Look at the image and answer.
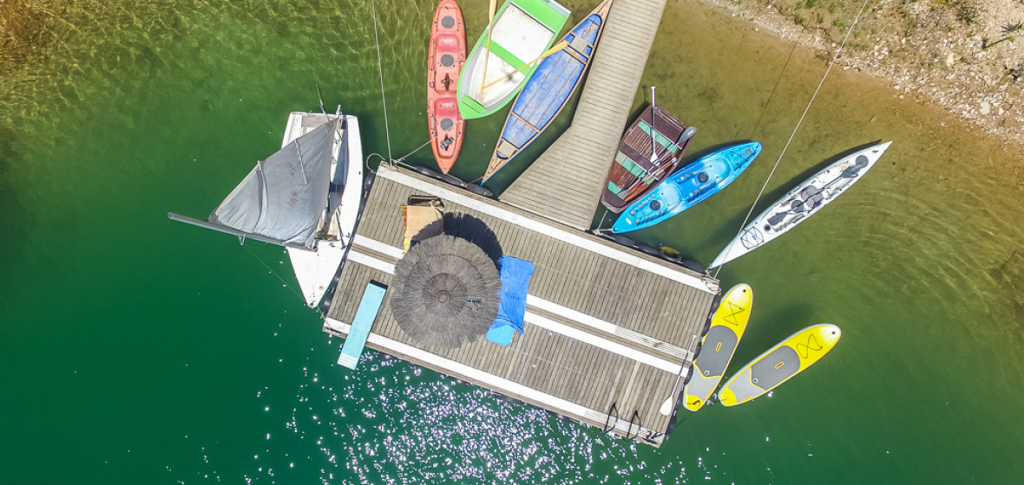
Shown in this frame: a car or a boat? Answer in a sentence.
There is a boat in the scene.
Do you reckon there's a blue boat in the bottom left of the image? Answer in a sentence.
No, in the bottom left of the image there is no blue boat.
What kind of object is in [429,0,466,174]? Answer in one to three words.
boat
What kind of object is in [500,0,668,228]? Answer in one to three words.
pier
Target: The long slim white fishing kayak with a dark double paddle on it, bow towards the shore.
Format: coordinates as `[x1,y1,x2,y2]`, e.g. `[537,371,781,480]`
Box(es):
[708,140,894,267]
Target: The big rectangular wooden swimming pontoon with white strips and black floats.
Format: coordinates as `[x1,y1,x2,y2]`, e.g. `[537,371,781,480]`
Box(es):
[323,163,718,450]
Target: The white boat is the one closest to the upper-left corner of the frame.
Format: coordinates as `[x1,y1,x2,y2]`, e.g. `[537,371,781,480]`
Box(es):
[167,84,361,308]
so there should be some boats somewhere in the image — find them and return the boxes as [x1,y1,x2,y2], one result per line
[708,140,894,267]
[603,102,689,213]
[481,0,612,185]
[611,141,763,233]
[429,0,466,174]
[167,84,361,308]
